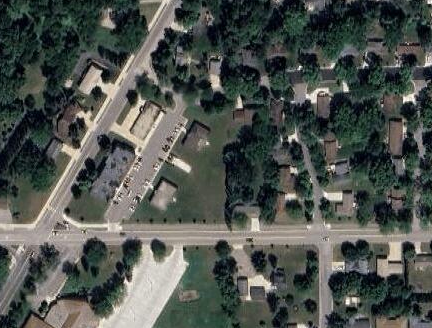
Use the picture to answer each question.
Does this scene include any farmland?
No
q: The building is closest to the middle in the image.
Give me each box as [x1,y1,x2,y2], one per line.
[184,122,208,150]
